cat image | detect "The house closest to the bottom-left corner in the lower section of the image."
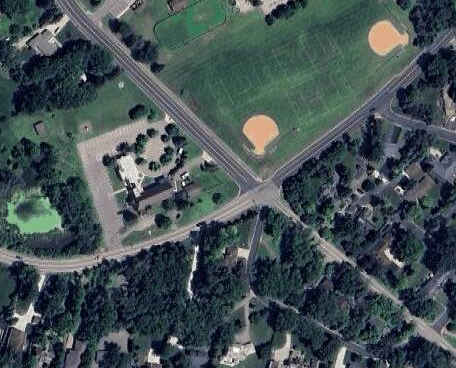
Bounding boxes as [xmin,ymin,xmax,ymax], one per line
[7,324,24,353]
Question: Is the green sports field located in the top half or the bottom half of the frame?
top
